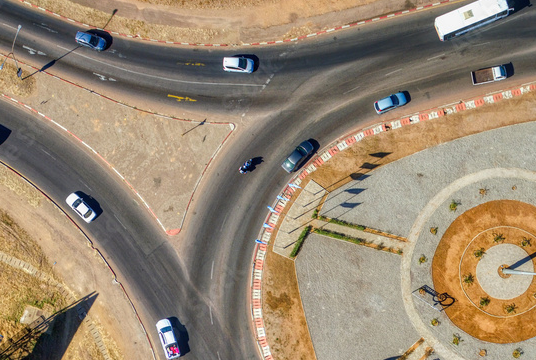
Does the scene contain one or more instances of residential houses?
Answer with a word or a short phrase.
No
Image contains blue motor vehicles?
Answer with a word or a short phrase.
Yes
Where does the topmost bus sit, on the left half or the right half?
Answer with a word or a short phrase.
right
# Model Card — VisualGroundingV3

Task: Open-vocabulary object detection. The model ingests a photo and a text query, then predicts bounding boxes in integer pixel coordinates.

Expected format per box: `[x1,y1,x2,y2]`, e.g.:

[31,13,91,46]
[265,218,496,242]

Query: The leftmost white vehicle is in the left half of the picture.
[62,189,99,225]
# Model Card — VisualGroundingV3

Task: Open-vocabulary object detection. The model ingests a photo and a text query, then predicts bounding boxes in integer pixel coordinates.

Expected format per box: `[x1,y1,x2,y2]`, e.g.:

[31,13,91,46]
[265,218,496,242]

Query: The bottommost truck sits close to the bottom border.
[155,319,181,360]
